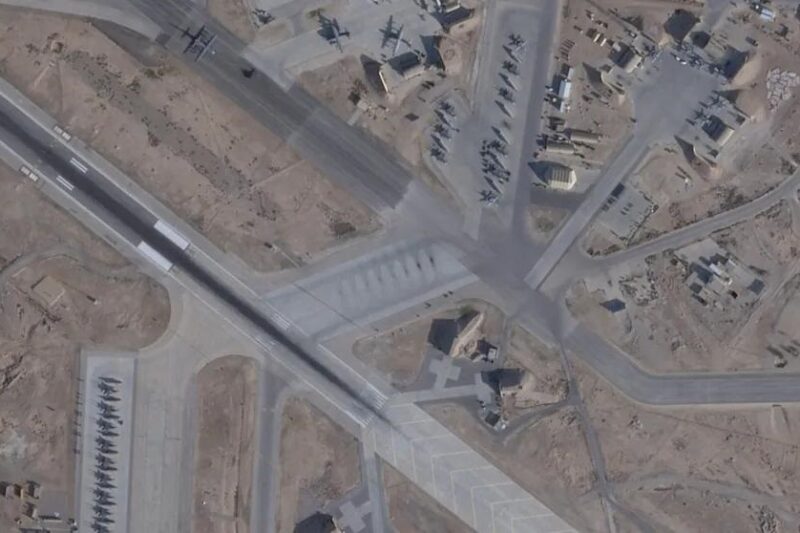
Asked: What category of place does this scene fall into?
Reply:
airport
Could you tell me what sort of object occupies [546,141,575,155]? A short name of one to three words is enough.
building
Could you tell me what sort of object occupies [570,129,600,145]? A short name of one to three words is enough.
building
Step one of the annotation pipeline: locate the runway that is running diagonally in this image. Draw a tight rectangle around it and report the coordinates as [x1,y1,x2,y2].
[0,76,577,533]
